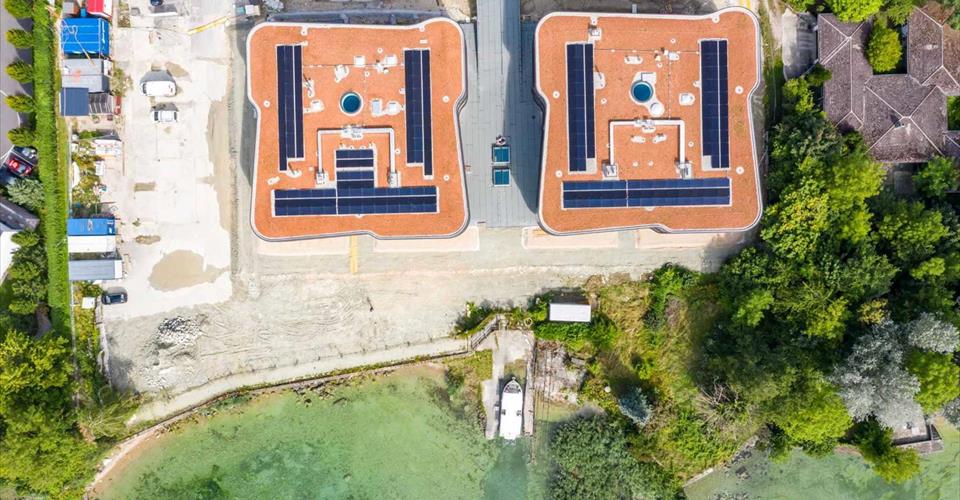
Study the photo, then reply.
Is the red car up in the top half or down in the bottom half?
top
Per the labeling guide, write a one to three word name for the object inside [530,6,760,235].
building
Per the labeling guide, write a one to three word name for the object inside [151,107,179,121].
car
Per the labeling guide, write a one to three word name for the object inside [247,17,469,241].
building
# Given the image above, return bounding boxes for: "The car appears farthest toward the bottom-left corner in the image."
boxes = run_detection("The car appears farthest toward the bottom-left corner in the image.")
[100,291,128,305]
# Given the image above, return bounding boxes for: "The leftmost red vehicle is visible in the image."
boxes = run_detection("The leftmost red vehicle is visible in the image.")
[5,156,34,176]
